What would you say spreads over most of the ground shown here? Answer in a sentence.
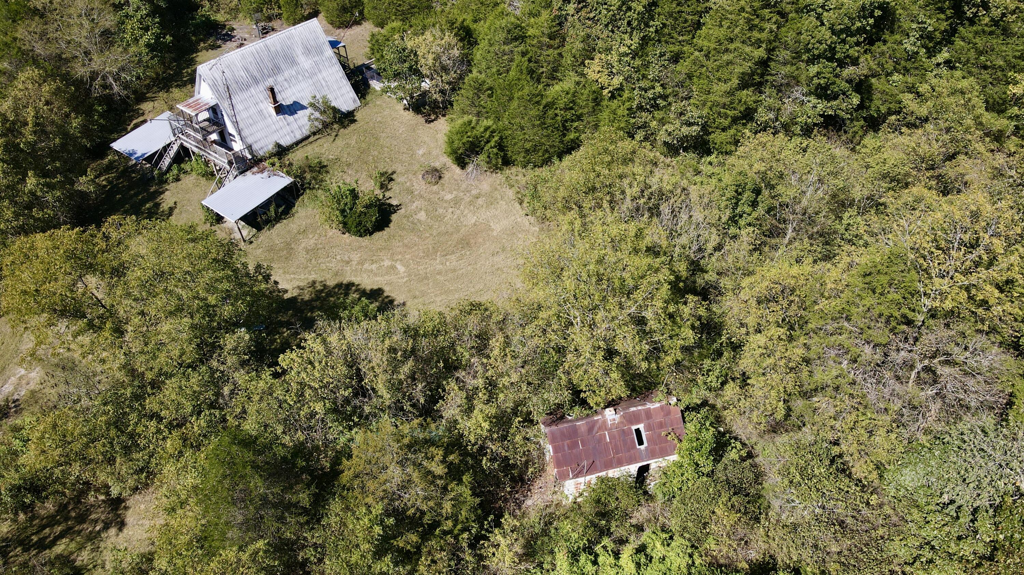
The bulk of the photo consists of trees.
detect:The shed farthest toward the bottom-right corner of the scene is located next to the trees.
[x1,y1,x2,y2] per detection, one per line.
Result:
[537,401,685,500]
